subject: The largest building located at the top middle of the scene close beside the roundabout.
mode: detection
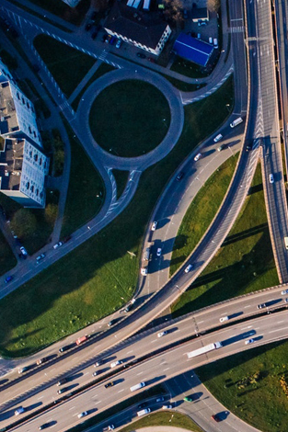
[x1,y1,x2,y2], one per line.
[105,3,175,58]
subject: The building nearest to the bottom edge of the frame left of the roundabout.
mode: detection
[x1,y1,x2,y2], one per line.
[0,130,50,207]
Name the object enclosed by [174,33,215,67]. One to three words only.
building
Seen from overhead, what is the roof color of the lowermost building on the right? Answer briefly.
blue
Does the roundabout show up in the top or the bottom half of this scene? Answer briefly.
top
